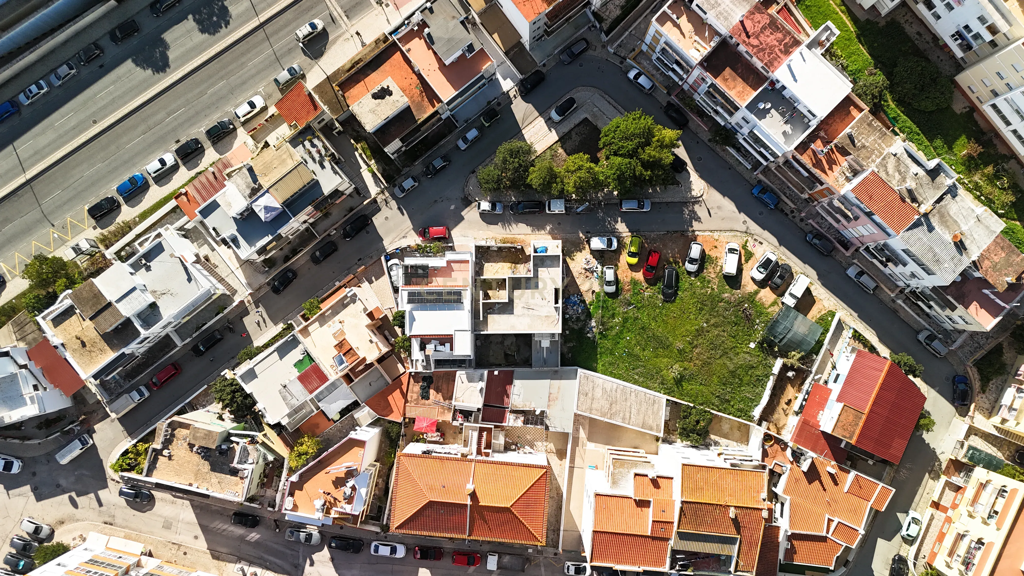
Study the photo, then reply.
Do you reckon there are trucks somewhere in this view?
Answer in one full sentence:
Yes, the picture does show a truck.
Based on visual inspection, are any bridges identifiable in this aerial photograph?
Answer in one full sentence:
No, I can see no bridge in this picture.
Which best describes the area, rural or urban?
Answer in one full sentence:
The area is urban.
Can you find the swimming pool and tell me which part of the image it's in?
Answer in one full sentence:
You can find the swimming pool in the bottom right area of the picture.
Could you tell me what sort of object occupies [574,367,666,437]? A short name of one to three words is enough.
building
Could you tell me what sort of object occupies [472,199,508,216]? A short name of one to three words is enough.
car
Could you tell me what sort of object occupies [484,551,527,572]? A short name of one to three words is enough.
truck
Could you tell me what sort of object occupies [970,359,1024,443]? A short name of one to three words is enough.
house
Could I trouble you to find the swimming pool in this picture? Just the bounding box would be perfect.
[962,444,1005,474]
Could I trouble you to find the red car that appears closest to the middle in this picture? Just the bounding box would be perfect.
[416,224,451,242]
